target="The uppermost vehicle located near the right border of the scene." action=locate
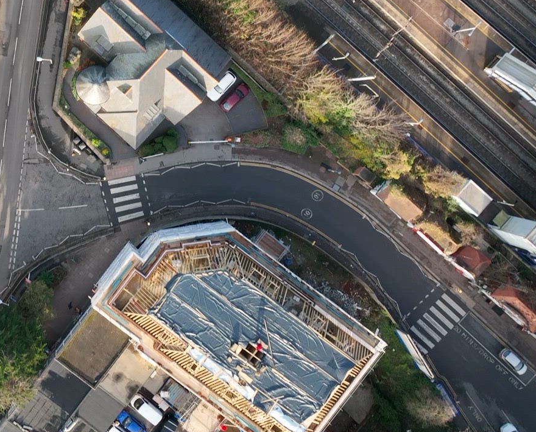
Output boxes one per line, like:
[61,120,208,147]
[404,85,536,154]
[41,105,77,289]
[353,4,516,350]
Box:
[496,345,529,376]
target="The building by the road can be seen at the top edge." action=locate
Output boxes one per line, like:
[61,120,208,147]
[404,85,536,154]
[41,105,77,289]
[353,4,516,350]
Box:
[74,0,232,150]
